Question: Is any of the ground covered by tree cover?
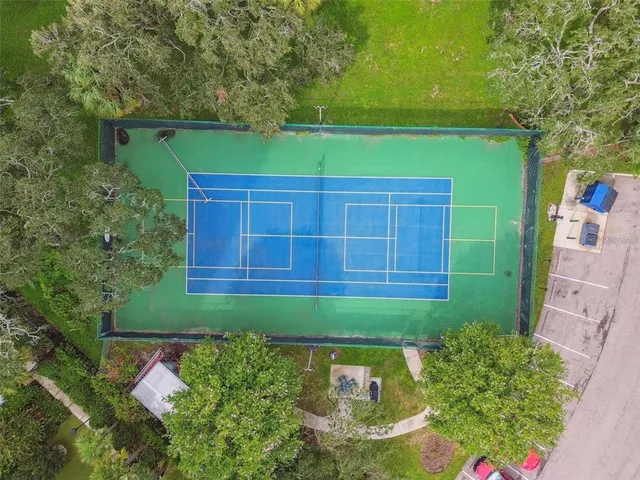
Yes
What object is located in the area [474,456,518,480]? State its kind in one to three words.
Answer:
car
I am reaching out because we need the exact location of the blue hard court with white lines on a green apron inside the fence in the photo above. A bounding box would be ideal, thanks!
[114,128,527,341]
